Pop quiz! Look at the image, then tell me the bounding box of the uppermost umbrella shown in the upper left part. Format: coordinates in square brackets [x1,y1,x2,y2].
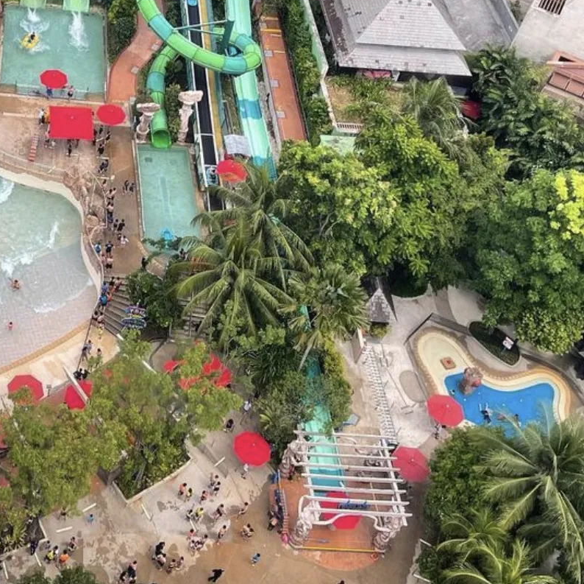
[39,71,67,92]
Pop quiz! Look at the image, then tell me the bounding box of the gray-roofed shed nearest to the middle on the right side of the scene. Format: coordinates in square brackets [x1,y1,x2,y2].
[357,280,392,343]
